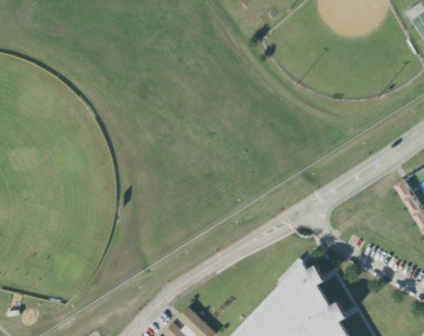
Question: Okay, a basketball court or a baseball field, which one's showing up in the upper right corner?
baseball field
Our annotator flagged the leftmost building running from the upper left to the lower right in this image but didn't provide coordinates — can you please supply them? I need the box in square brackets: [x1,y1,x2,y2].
[178,307,216,336]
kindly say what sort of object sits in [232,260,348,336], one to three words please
building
